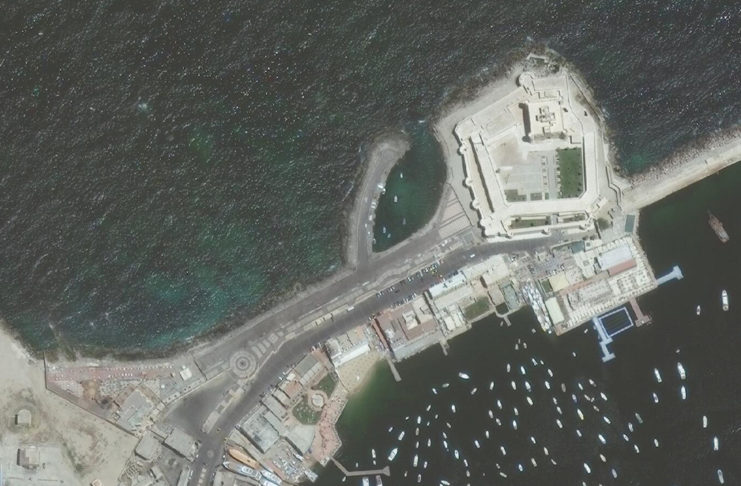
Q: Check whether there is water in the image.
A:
Yes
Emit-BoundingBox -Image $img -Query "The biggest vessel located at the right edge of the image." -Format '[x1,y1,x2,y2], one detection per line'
[709,209,730,242]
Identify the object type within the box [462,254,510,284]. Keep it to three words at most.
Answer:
building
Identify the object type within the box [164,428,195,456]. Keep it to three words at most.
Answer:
building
